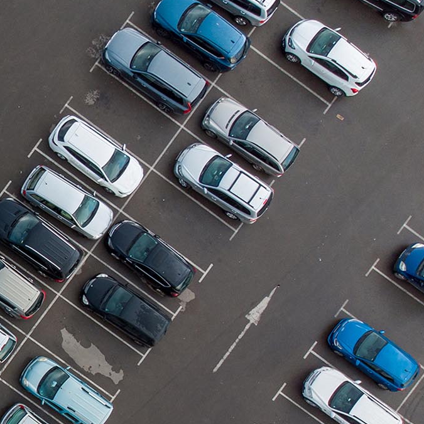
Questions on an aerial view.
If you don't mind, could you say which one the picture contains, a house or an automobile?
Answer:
automobile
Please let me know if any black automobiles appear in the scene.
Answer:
Yes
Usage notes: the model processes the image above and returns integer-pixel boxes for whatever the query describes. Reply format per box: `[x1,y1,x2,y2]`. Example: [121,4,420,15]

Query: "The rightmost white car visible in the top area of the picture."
[278,14,383,99]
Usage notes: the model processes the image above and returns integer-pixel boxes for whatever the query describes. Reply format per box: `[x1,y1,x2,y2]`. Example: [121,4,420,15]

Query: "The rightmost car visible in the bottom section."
[389,243,424,300]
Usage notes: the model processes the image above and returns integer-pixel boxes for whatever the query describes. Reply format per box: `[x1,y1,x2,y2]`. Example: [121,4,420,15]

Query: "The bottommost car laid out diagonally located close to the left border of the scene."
[18,355,119,424]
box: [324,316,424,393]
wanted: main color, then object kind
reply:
blue car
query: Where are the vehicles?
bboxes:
[373,0,424,20]
[0,197,85,283]
[278,14,383,99]
[102,217,201,300]
[0,254,47,323]
[18,159,113,243]
[299,364,412,424]
[213,0,283,28]
[148,0,253,75]
[45,112,143,199]
[198,97,304,181]
[0,399,53,424]
[18,355,119,424]
[99,29,208,118]
[324,316,424,393]
[79,272,175,351]
[389,243,424,300]
[171,143,278,226]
